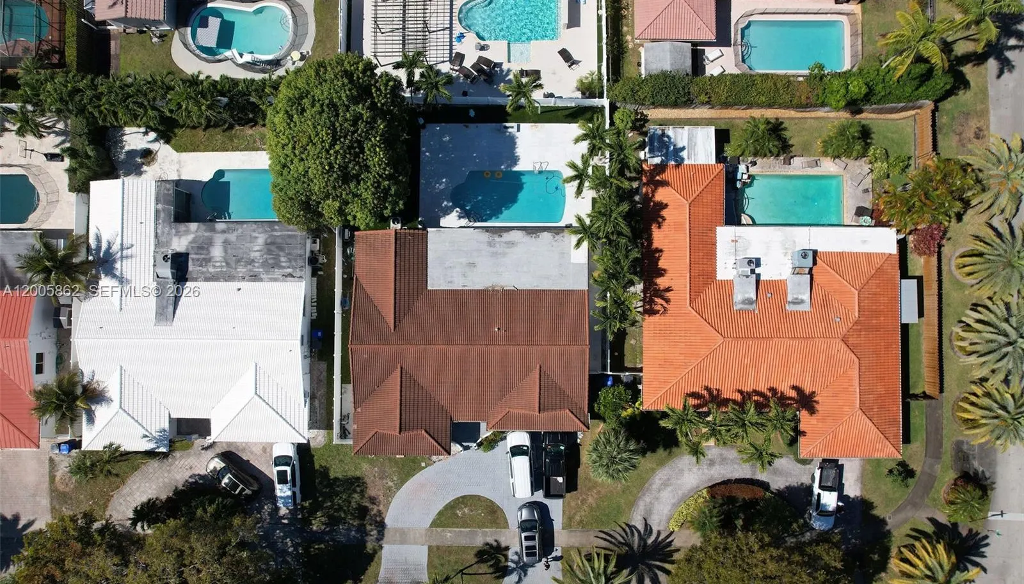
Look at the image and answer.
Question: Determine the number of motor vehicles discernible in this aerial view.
6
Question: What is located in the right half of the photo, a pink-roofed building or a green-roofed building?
pink-roofed building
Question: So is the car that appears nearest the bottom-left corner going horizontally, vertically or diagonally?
diagonally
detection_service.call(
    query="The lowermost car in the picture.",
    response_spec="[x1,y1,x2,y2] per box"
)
[514,500,544,565]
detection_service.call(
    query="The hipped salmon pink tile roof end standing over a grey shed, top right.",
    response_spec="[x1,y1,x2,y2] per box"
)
[634,0,718,44]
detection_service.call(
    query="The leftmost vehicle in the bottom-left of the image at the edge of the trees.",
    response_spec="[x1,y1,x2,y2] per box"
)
[207,457,270,510]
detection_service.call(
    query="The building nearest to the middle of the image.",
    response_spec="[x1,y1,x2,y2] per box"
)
[348,227,591,457]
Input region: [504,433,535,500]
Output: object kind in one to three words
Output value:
car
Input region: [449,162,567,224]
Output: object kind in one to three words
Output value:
swimming pool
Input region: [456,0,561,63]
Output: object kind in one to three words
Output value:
swimming pool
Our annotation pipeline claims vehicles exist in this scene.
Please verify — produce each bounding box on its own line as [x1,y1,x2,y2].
[207,457,270,510]
[540,433,570,501]
[504,433,535,500]
[269,442,304,508]
[514,500,544,565]
[799,460,842,533]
